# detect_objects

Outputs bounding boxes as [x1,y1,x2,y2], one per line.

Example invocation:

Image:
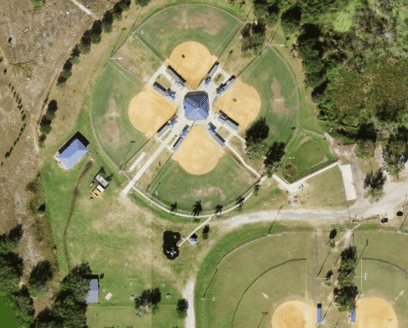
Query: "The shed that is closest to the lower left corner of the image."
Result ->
[84,279,100,303]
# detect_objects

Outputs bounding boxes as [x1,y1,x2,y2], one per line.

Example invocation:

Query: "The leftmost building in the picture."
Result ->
[51,136,87,170]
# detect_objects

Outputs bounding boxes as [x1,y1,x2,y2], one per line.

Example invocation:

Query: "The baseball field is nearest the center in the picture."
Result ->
[137,129,260,215]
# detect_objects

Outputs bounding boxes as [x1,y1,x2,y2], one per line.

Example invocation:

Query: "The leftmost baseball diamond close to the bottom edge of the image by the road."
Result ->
[203,232,316,328]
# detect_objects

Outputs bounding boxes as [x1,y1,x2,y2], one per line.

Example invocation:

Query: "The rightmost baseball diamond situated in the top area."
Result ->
[212,46,299,169]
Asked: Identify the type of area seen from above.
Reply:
sports ground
